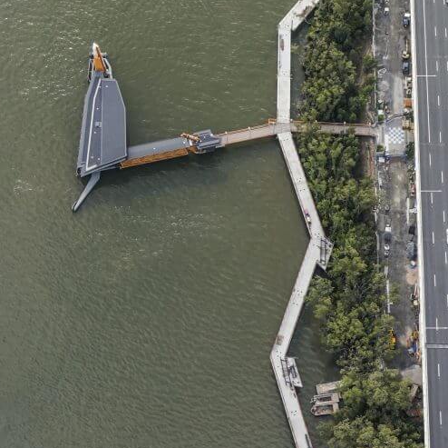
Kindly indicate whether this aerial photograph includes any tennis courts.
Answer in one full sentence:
No, the photo shows no tennis court.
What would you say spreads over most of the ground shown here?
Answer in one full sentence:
Most of the picture is covered by water.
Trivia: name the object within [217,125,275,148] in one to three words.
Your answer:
pier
